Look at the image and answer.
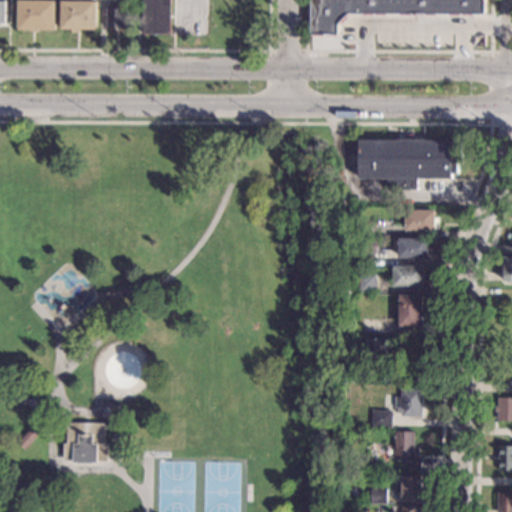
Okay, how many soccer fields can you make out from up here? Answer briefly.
0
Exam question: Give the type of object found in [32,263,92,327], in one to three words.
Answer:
playground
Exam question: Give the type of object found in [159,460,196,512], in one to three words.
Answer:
basketball court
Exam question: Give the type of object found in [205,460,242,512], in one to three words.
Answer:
basketball court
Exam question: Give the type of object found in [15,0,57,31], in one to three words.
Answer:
house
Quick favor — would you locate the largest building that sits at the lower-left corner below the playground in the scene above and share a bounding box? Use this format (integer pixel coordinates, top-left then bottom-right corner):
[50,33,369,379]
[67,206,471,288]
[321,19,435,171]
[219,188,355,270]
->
[62,423,107,463]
